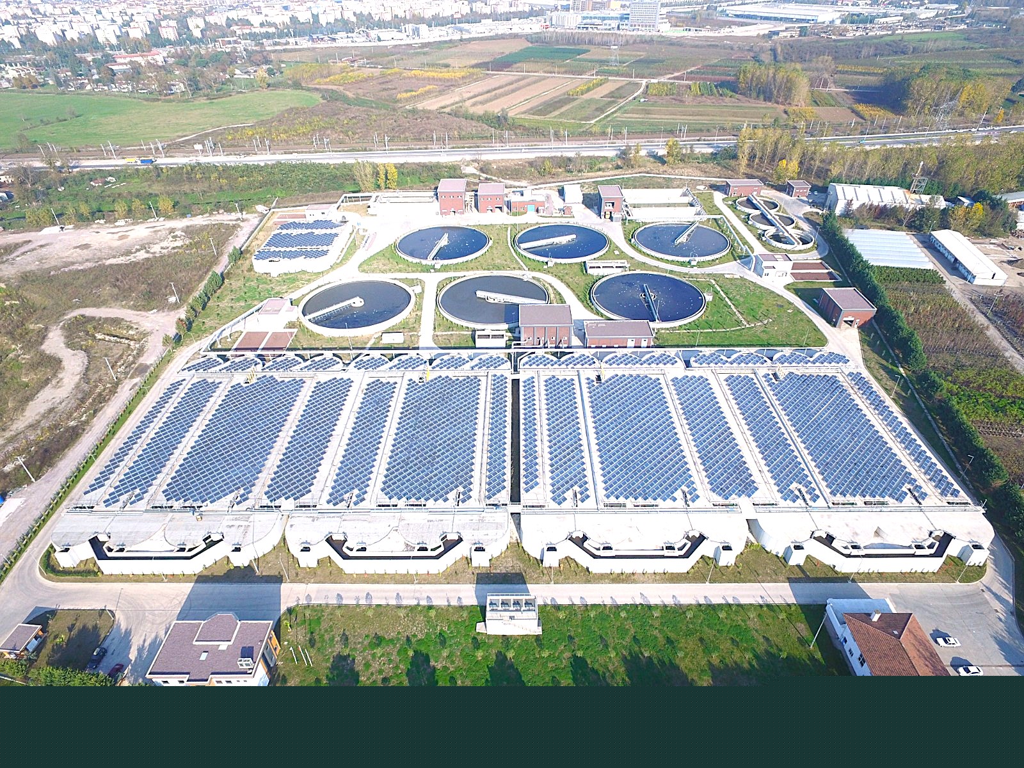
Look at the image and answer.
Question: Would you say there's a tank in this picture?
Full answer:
Yes, this view includes a tank.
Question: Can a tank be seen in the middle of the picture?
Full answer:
Yes, the scene does show a tank in the middle of the picture.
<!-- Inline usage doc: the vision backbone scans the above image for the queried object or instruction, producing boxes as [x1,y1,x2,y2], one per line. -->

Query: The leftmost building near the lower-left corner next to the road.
[0,622,50,662]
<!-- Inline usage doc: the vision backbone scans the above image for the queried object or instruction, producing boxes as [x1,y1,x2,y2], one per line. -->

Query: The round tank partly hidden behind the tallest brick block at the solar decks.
[436,275,552,331]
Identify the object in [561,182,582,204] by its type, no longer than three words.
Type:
shed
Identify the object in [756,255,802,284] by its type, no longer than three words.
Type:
building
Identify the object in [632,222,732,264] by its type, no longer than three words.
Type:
storage tank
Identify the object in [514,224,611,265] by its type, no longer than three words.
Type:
storage tank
